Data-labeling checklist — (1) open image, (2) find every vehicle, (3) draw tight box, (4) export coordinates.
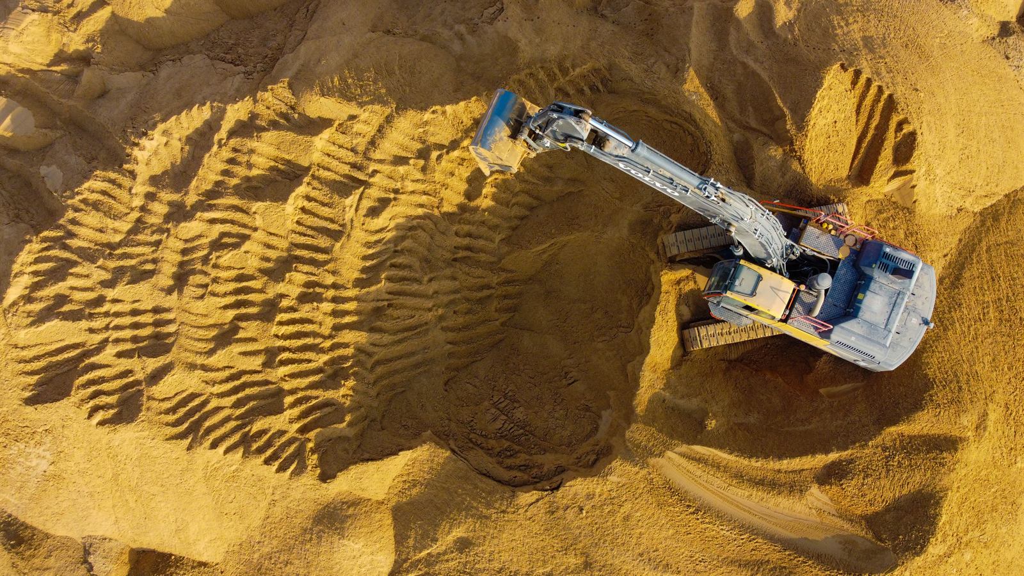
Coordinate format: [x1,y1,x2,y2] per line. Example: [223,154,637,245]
[469,88,935,373]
